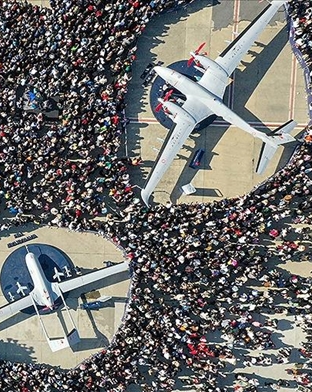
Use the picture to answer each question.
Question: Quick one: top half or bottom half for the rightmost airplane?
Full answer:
The top half of the photo is where the rightmost airplane is.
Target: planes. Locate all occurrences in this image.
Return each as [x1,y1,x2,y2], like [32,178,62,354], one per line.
[0,247,128,351]
[144,0,299,208]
